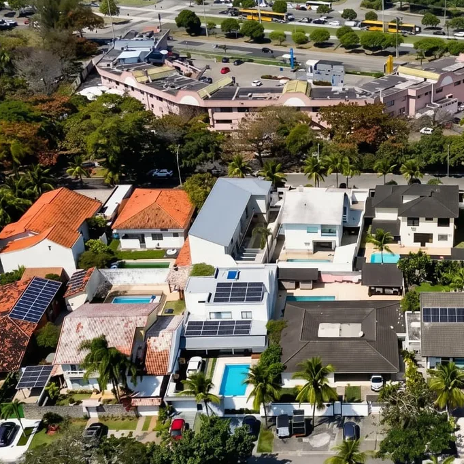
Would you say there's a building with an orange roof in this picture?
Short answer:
Yes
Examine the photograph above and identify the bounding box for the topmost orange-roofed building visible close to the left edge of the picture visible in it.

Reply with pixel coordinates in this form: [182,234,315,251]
[0,187,103,273]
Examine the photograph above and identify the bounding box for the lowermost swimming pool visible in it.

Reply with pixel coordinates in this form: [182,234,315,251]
[216,362,253,398]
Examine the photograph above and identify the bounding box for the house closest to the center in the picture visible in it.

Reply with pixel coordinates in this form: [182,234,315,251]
[176,178,273,275]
